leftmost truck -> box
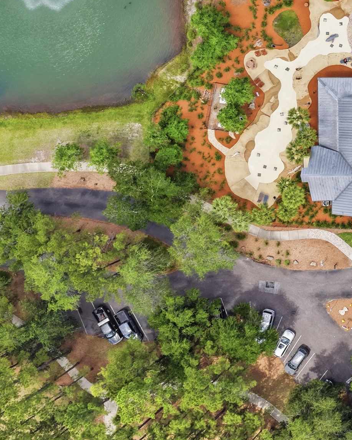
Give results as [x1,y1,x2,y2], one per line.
[91,305,121,344]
